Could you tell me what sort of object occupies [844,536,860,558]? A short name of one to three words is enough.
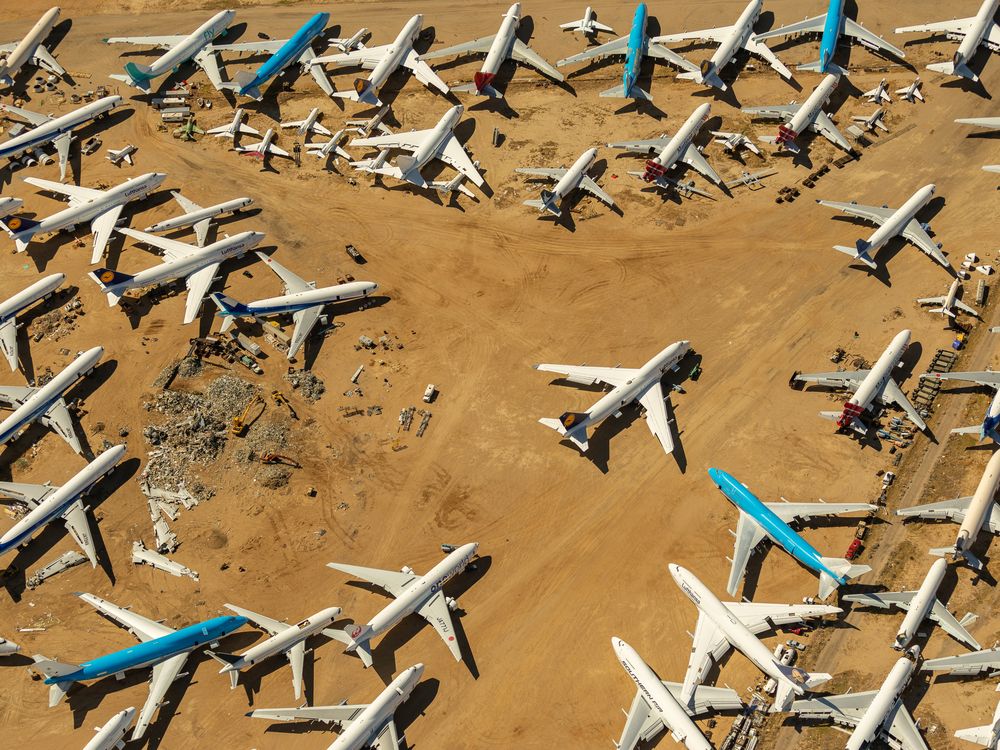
vehicle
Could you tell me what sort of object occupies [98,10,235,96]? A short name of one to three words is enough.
airplane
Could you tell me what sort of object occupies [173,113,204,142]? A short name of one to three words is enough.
airplane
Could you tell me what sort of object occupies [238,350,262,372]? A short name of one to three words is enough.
truck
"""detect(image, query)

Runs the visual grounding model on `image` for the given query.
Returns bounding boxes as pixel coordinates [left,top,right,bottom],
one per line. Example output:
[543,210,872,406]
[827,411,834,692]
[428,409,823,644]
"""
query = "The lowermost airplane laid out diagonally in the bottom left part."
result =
[88,709,135,750]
